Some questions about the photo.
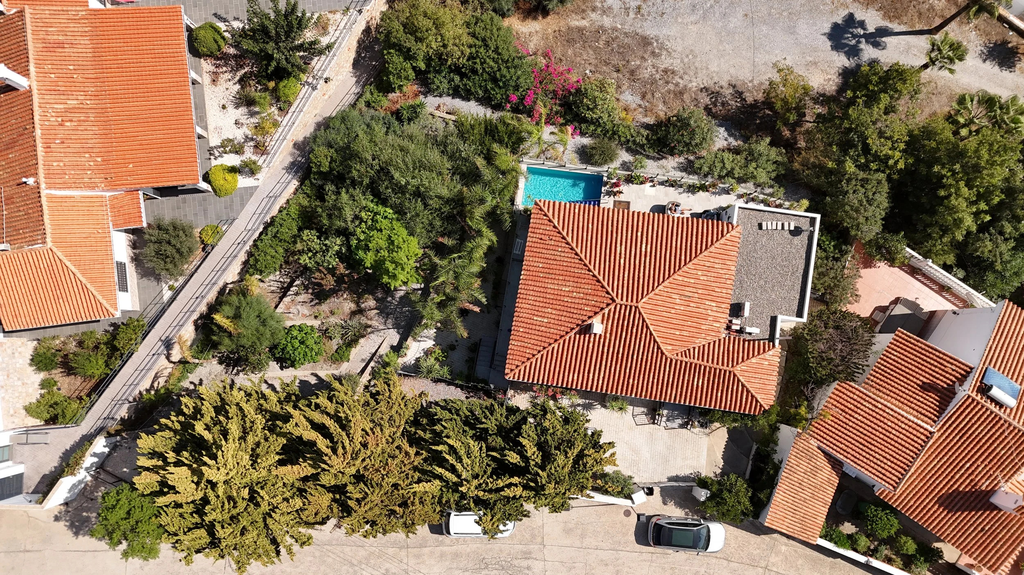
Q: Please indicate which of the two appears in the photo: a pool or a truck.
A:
pool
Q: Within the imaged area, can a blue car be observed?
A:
No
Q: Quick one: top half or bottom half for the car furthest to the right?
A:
bottom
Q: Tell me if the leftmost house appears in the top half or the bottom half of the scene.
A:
bottom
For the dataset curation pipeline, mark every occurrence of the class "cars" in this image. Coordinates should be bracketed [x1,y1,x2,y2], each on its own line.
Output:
[443,507,516,545]
[647,515,725,557]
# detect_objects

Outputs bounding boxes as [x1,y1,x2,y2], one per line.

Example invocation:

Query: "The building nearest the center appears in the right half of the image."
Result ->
[501,195,821,420]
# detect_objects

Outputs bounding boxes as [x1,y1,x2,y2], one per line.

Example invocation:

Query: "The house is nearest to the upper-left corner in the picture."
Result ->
[0,0,209,337]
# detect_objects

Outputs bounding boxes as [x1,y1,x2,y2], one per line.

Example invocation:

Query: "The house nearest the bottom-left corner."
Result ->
[0,443,31,515]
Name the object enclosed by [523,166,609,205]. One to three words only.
swimming pool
